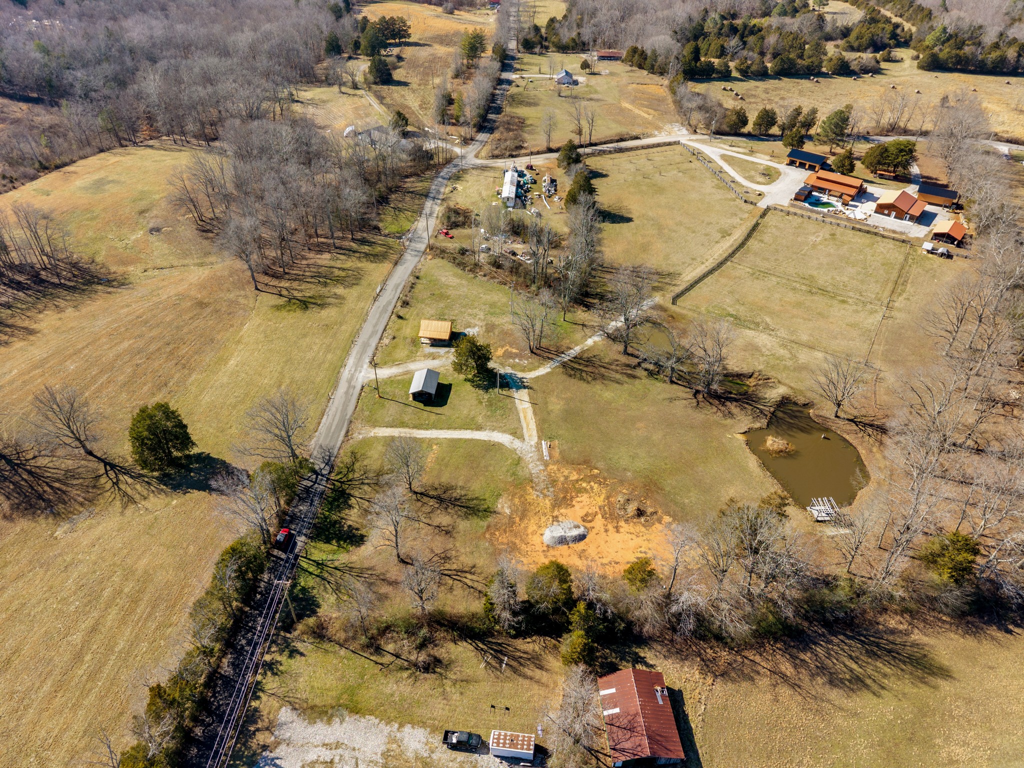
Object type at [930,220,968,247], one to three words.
shed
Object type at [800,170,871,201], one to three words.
house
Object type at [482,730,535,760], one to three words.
trailer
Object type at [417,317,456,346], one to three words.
building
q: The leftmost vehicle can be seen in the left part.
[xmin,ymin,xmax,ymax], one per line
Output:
[274,526,290,547]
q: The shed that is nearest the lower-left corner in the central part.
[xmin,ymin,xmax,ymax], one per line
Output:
[410,369,440,403]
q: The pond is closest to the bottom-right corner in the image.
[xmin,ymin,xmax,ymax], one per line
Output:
[742,402,870,510]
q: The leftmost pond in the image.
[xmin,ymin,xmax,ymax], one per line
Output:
[629,323,749,390]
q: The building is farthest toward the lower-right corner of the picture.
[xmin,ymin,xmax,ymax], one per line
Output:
[596,668,685,768]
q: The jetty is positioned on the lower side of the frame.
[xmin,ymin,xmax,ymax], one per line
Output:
[803,495,838,526]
